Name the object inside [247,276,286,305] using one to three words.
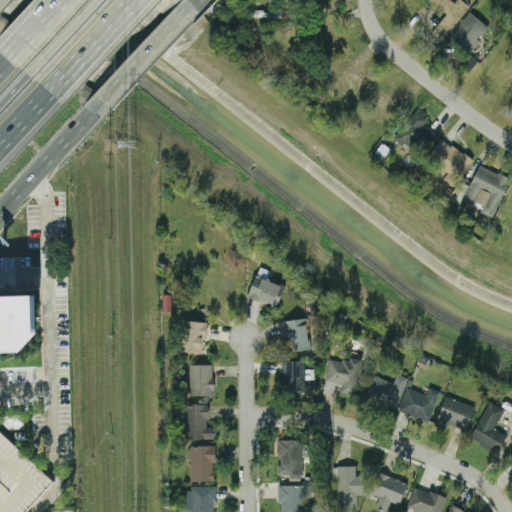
house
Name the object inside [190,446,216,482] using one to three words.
house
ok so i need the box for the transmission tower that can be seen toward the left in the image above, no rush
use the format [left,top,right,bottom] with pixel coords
[117,141,138,154]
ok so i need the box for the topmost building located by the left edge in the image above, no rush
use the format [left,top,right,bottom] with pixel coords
[0,294,40,354]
